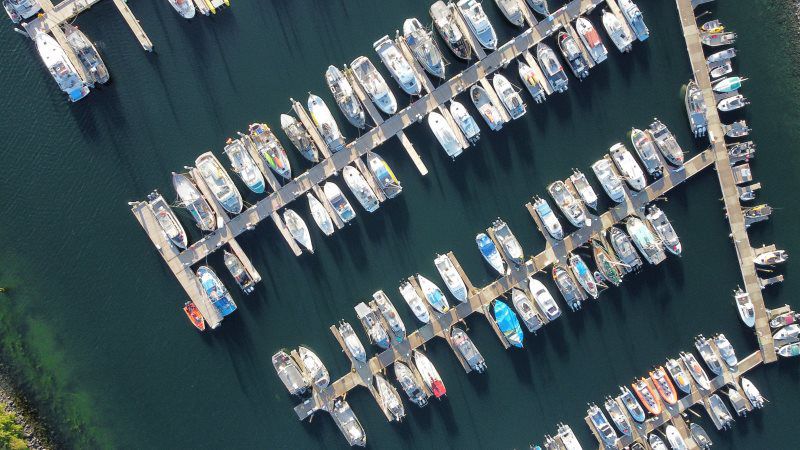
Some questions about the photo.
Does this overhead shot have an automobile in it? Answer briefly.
No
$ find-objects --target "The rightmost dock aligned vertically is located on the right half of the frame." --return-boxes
[676,0,800,362]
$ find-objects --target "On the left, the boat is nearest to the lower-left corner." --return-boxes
[183,298,205,330]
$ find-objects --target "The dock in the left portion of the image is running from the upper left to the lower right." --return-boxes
[128,199,225,330]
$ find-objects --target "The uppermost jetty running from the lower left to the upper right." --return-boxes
[180,0,636,279]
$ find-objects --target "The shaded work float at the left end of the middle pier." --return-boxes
[291,389,329,421]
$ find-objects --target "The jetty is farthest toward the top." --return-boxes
[14,0,152,83]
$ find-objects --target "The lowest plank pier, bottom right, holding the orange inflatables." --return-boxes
[584,339,770,450]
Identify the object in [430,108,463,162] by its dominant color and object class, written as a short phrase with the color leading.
white boat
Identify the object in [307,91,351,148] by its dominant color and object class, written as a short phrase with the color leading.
white boat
